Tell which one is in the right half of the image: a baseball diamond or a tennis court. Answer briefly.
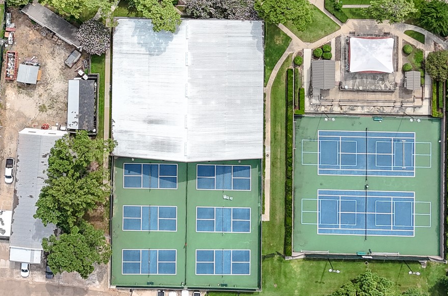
tennis court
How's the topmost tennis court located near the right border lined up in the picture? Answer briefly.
from left to right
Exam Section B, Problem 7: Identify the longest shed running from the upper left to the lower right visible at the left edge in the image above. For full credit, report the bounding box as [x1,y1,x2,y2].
[21,3,87,46]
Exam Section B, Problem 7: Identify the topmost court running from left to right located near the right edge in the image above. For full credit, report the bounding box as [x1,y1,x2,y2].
[295,115,442,186]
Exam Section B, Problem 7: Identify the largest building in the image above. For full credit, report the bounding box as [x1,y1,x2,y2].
[111,17,264,161]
